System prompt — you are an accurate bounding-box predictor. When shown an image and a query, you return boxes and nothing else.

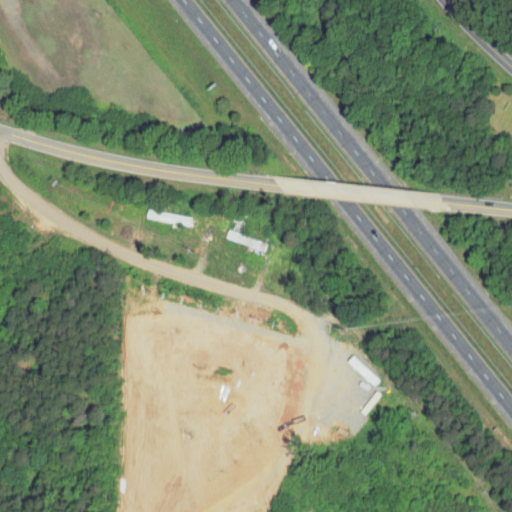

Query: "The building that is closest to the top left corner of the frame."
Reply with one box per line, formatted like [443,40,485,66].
[146,208,194,228]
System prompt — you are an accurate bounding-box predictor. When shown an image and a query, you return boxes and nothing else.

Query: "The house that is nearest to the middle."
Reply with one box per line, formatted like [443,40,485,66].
[226,218,268,252]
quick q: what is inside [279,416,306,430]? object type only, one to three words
vehicle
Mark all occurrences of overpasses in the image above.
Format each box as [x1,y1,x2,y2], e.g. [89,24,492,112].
[272,176,442,212]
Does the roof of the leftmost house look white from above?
Yes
